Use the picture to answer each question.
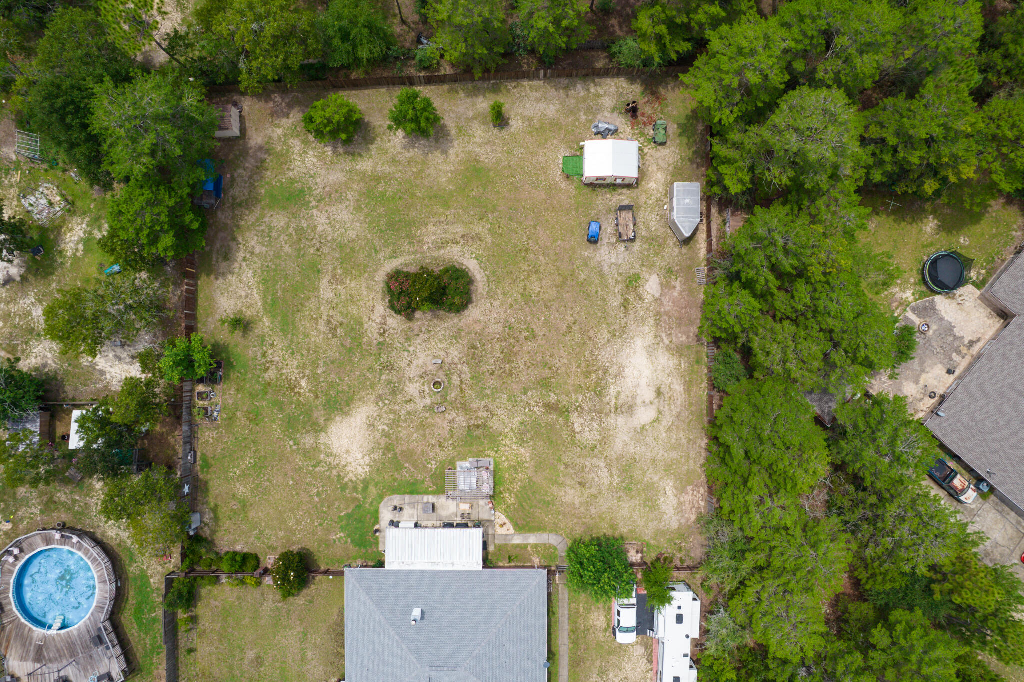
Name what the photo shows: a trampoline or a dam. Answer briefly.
trampoline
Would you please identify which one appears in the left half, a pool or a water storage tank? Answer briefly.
pool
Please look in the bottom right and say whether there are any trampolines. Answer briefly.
No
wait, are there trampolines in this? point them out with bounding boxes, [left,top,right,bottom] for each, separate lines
[920,248,977,295]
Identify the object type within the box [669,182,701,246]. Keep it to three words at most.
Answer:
trailer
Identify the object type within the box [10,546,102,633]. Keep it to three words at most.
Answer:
swimming pool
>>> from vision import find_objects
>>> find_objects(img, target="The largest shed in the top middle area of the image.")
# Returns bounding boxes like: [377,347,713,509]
[577,138,643,184]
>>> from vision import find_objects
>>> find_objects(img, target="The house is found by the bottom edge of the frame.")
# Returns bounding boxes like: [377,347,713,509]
[344,563,550,682]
